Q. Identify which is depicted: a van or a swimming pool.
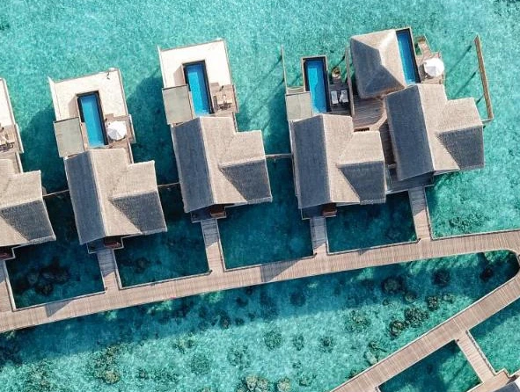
swimming pool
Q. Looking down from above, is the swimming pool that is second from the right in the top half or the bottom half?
top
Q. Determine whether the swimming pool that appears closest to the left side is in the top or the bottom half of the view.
top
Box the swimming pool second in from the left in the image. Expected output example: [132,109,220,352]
[182,59,214,117]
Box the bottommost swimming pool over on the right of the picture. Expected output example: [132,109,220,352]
[299,56,330,113]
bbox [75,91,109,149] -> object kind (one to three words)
swimming pool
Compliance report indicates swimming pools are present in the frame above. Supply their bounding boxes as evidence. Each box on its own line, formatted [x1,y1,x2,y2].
[400,27,422,85]
[182,59,214,117]
[299,56,330,113]
[75,91,109,149]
